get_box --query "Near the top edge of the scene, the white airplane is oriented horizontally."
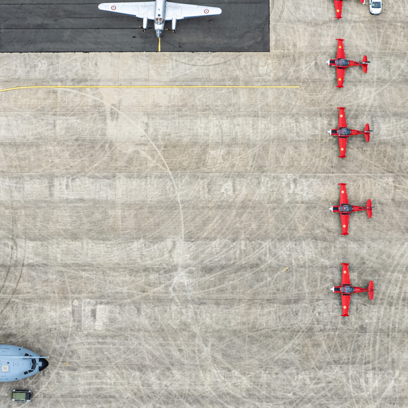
[99,0,221,38]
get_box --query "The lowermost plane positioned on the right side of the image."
[330,263,375,317]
